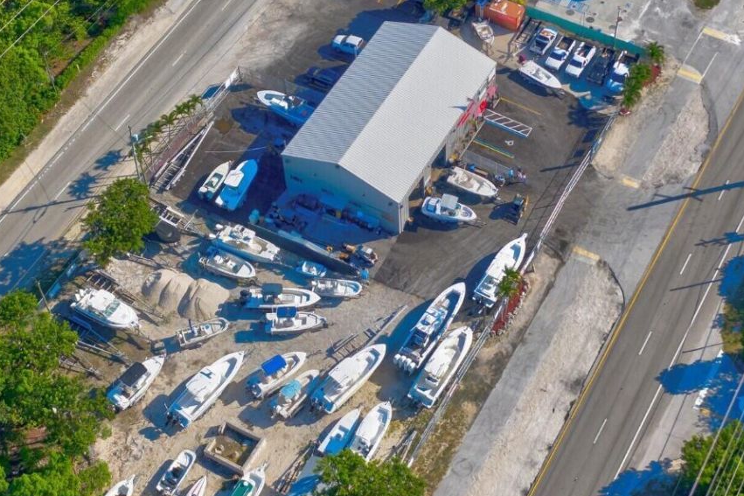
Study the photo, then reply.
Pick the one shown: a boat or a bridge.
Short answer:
boat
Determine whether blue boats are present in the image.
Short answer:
Yes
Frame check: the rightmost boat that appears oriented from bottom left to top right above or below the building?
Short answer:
below it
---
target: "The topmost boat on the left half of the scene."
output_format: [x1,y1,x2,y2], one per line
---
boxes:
[256,94,310,131]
